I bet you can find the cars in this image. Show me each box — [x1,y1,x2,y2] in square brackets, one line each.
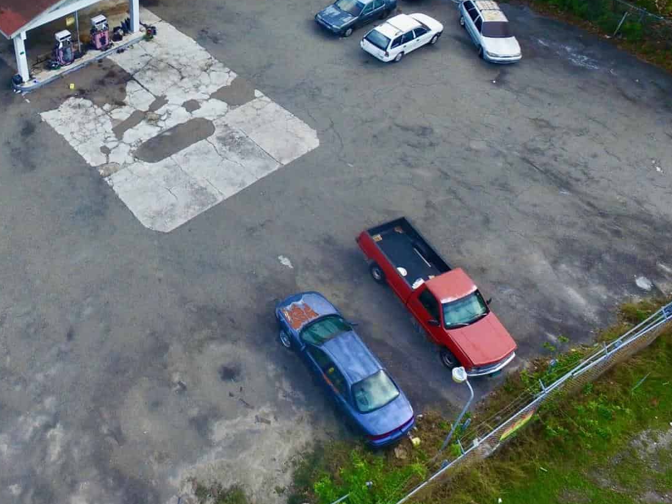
[458,0,524,66]
[313,0,398,38]
[357,13,441,63]
[279,295,424,459]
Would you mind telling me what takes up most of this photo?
paved ground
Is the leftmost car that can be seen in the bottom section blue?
Yes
